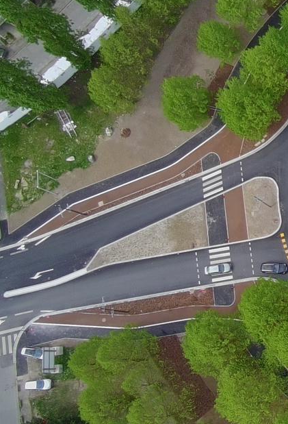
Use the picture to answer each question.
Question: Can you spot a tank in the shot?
No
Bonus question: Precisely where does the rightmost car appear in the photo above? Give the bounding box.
[259,261,288,274]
